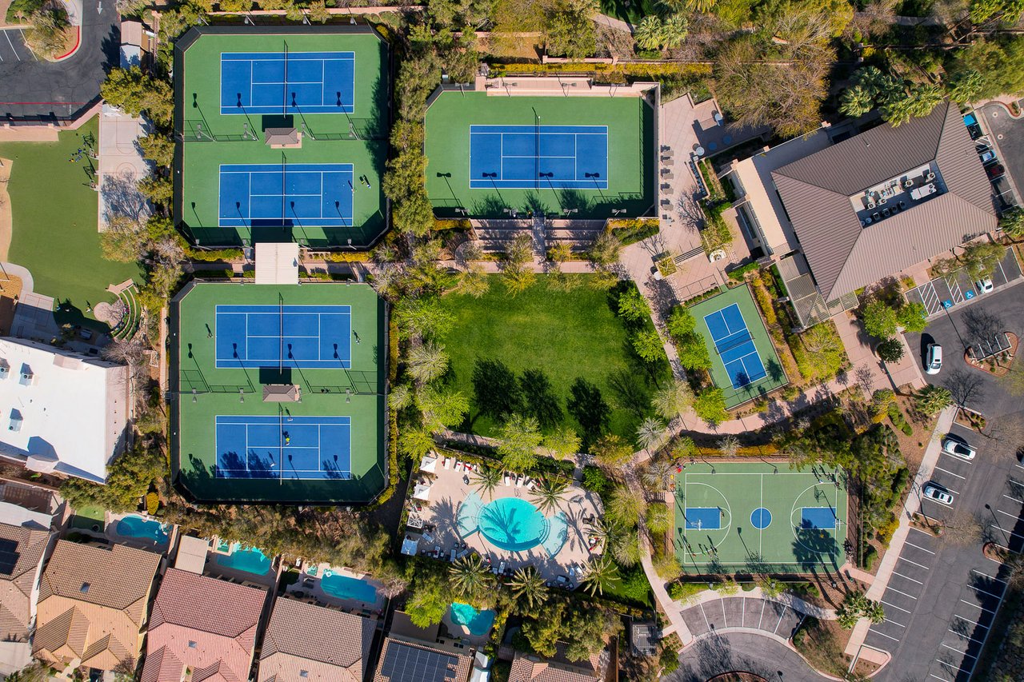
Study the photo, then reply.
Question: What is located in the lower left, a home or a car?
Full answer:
There is a home in the lower left.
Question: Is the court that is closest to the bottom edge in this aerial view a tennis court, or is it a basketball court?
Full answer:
The court that is closest to the bottom edge is a basketball court.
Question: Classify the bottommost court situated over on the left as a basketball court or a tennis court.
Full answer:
I'd identify the bottommost court situated over on the left as a tennis court.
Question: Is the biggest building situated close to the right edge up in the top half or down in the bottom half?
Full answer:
It is in the top half that the biggest building situated close to the right edge appears.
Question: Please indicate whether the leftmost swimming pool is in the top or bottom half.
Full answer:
The leftmost swimming pool sits in the bottom half of the picture.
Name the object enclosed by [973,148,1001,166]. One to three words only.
car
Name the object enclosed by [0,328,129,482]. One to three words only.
building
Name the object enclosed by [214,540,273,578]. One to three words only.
swimming pool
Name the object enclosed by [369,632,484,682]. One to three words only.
house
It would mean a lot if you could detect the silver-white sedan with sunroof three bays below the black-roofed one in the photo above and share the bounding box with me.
[926,486,954,505]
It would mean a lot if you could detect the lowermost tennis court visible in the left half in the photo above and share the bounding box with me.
[180,392,387,501]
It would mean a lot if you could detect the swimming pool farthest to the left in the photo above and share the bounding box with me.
[114,513,171,547]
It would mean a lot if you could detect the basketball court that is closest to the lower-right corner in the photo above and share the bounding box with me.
[674,462,848,575]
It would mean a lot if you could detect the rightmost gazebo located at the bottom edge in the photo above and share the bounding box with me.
[630,620,657,655]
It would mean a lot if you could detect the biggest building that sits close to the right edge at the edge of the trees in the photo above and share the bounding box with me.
[712,97,999,303]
